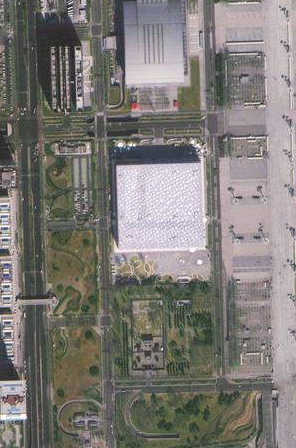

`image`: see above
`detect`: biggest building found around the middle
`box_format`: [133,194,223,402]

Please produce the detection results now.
[115,162,206,251]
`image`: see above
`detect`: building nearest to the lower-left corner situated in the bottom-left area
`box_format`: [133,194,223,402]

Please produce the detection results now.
[0,380,26,422]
